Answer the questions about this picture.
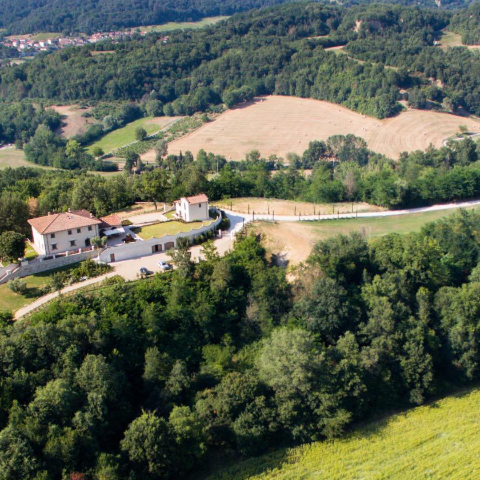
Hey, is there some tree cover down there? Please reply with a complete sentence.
Yes, there is tree cover in the image.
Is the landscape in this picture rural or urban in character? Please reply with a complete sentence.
The area is rural.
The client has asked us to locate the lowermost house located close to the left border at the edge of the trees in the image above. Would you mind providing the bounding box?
[24,205,103,255]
